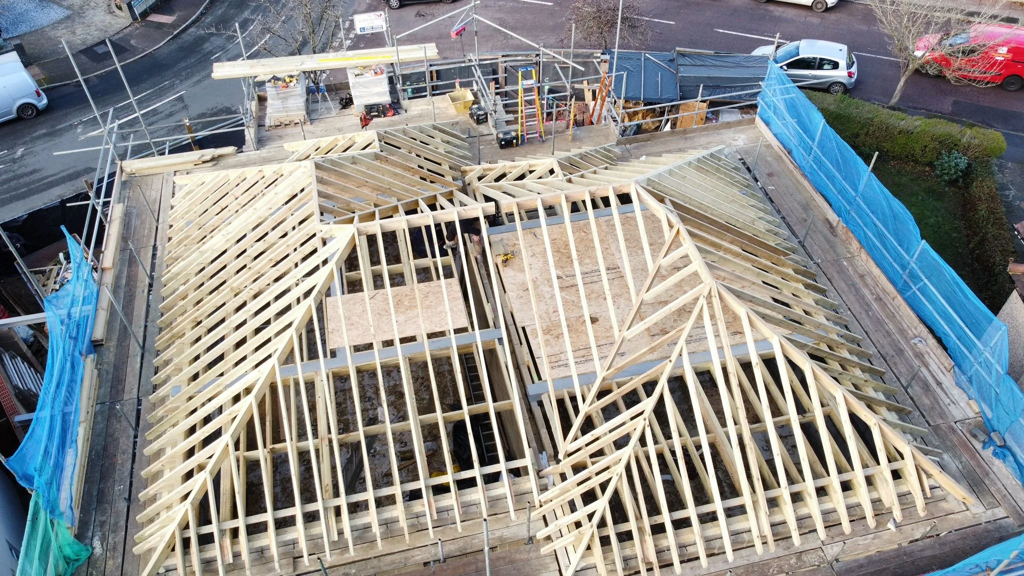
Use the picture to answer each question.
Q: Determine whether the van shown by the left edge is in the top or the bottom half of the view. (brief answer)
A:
top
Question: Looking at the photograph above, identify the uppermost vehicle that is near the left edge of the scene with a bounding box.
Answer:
[0,50,49,120]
